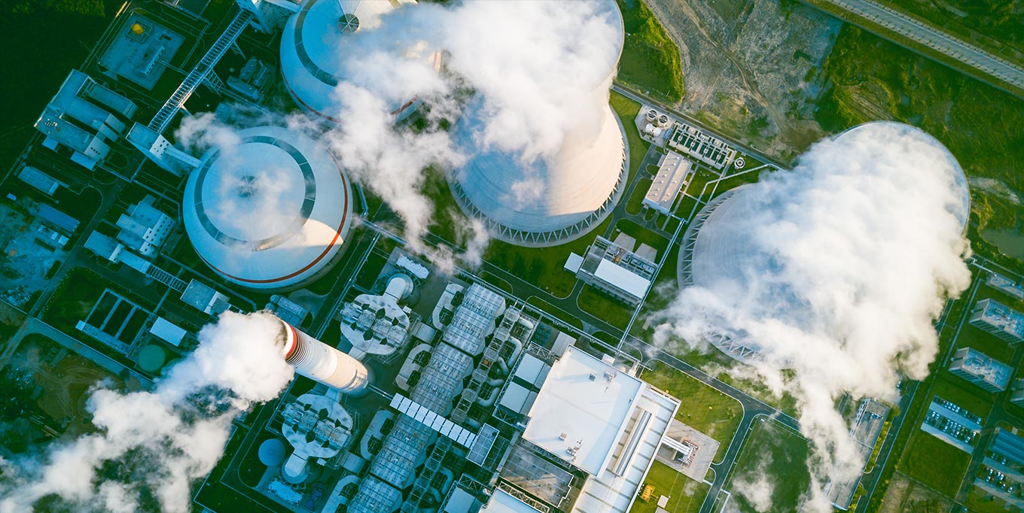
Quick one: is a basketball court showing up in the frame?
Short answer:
No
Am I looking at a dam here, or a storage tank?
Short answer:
storage tank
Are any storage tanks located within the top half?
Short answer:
Yes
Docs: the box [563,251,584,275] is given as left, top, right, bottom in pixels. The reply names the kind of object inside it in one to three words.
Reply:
shed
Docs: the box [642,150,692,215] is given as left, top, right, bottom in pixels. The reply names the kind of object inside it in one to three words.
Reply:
building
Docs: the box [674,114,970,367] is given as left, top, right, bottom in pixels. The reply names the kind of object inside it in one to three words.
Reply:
cooling tower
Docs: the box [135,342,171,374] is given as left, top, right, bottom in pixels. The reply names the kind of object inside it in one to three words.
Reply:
storage tank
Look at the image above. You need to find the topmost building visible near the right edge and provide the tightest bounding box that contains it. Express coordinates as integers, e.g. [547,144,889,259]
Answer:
[977,274,1024,309]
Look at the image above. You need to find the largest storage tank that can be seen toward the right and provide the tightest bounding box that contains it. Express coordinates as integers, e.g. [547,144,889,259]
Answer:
[667,118,737,173]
